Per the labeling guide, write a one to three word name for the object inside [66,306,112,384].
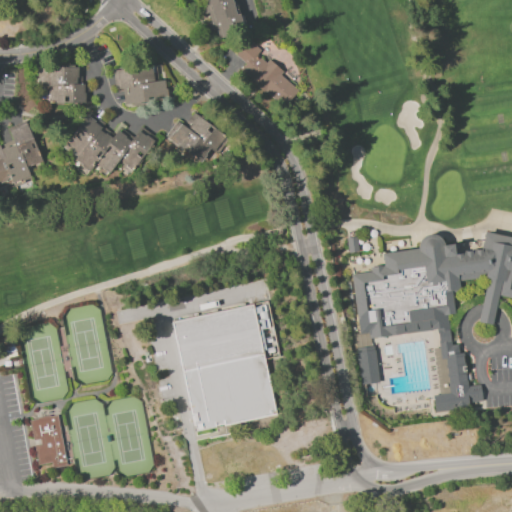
tennis court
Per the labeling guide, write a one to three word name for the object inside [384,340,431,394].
swimming pool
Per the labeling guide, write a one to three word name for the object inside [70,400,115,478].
tennis court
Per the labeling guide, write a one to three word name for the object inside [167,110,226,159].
house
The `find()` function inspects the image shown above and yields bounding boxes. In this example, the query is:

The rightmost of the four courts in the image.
[109,398,154,477]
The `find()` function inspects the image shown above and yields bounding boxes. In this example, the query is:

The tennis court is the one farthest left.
[25,324,68,402]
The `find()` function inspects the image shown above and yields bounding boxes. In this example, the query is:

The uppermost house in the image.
[208,0,244,41]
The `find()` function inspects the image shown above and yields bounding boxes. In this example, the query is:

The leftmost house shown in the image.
[0,121,40,186]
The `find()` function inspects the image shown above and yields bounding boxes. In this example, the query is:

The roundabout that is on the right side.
[460,304,512,406]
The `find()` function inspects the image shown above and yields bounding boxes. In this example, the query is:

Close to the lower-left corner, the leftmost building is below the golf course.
[31,415,69,468]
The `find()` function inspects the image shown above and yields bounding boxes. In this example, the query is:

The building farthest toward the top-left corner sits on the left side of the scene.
[35,65,96,108]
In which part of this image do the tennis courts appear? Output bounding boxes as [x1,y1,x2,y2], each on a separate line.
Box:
[70,400,115,478]
[66,306,112,384]
[109,398,154,477]
[25,324,68,402]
